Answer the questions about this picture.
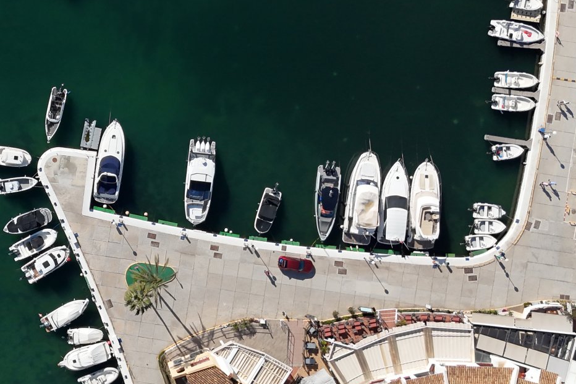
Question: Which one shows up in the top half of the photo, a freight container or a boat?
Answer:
boat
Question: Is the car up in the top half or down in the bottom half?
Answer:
bottom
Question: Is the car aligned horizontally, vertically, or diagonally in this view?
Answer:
horizontally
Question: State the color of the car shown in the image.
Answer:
red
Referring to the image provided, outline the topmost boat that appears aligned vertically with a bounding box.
[45,78,68,144]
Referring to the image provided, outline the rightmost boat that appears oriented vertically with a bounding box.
[407,158,443,248]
